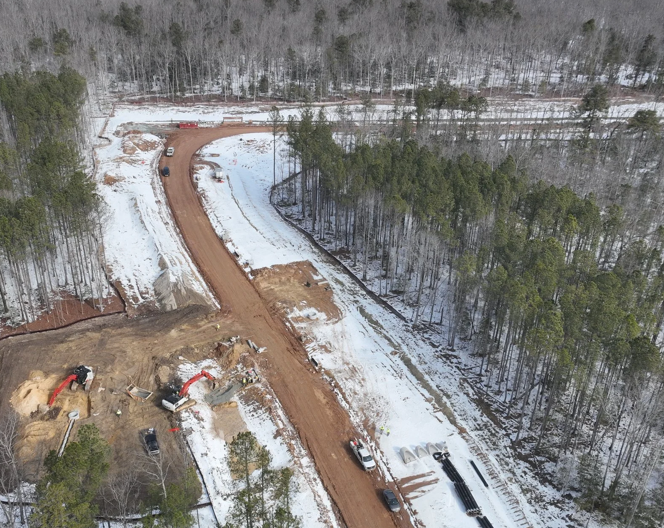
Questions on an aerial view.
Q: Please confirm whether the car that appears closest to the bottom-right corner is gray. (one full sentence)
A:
Yes, the car that appears closest to the bottom-right corner is indeed gray.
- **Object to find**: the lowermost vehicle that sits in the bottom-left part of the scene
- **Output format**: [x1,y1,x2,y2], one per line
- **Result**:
[143,427,160,455]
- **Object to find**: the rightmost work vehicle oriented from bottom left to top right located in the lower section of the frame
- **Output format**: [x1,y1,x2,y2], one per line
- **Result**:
[168,370,221,415]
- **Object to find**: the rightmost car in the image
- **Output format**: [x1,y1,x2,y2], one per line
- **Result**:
[383,488,403,513]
